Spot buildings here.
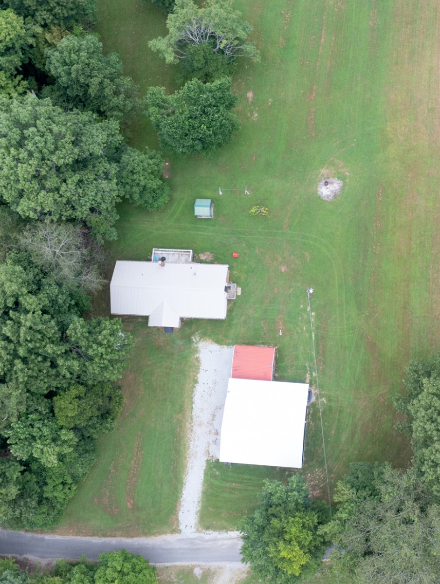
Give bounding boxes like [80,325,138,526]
[194,198,213,218]
[221,378,309,468]
[110,248,237,333]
